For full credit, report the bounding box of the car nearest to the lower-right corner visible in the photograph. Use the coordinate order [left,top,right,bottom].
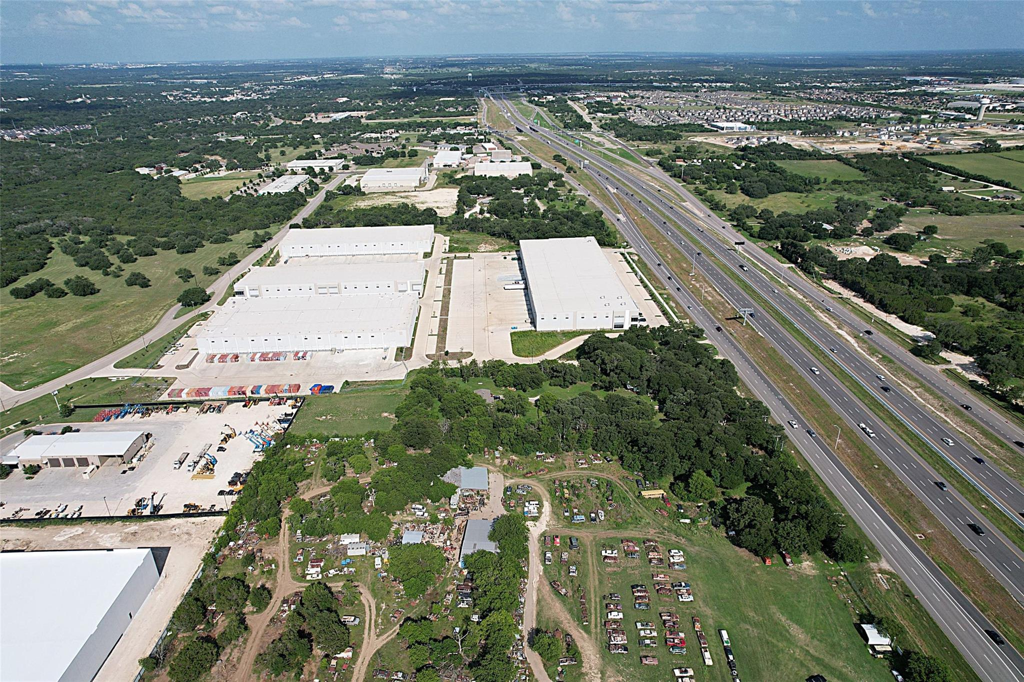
[987,628,1004,644]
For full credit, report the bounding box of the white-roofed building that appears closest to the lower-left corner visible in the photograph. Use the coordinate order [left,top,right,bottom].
[0,548,158,682]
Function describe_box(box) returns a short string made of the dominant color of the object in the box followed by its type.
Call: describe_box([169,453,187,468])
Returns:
white vehicle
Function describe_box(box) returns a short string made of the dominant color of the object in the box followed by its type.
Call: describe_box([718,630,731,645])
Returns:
white vehicle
